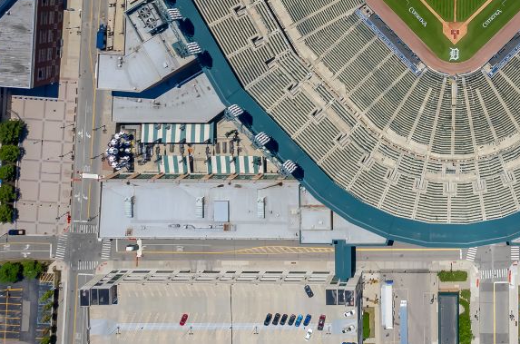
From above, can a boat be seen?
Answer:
No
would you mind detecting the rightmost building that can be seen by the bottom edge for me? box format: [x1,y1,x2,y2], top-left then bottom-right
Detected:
[439,285,459,344]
